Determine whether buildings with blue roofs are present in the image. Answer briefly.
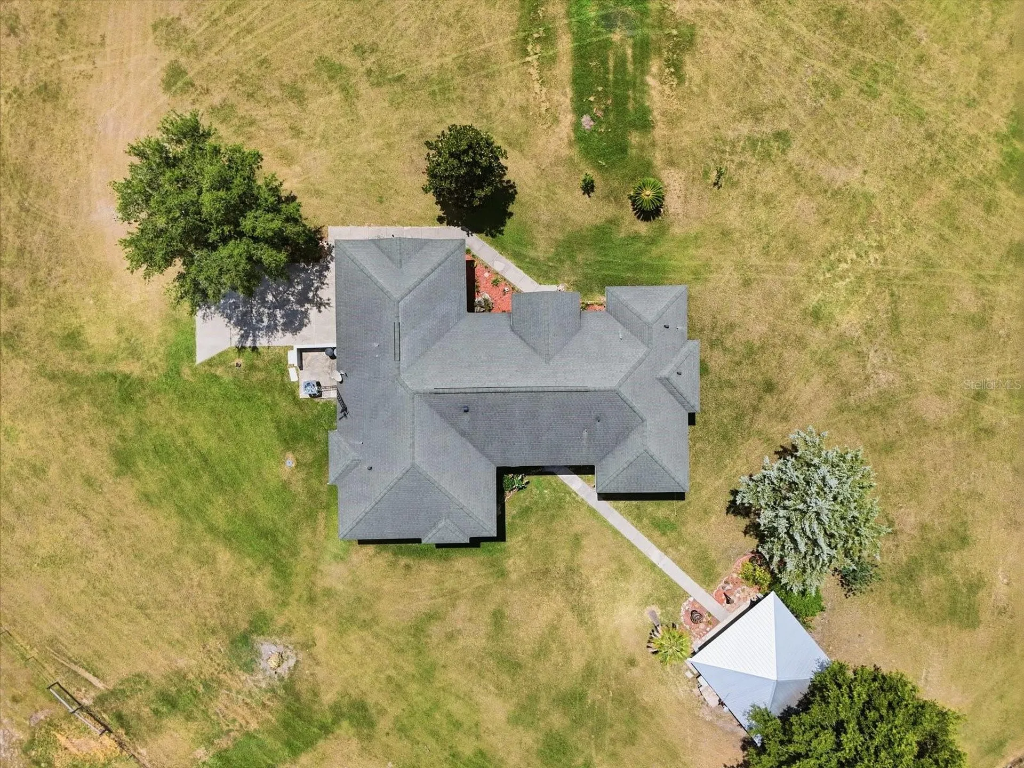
No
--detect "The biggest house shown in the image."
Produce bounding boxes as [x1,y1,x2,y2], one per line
[328,234,701,544]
